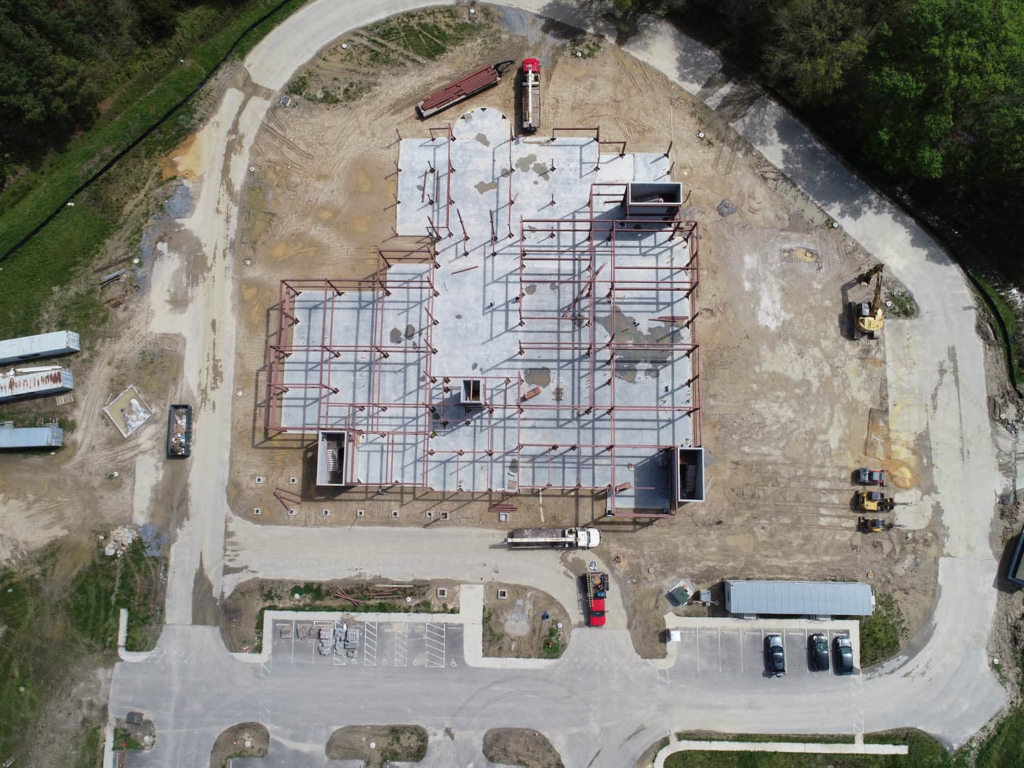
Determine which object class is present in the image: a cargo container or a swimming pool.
cargo container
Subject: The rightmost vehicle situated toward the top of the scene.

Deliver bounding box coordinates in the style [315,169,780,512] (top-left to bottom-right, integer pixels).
[854,263,886,340]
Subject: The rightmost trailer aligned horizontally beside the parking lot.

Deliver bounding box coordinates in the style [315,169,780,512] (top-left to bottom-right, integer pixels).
[725,580,873,615]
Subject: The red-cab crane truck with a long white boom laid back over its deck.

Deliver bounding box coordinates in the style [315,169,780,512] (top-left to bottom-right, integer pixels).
[521,62,544,131]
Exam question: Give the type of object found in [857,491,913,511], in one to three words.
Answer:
work vehicle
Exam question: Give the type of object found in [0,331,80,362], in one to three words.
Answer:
shipping container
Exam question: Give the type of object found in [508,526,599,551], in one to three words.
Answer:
truck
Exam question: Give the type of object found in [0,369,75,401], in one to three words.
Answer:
shipping container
